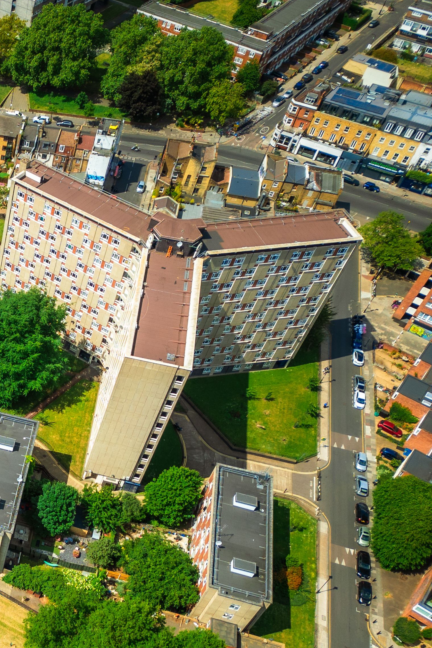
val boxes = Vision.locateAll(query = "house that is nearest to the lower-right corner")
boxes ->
[392,583,432,629]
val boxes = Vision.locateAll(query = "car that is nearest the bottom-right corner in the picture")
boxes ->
[357,579,375,608]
